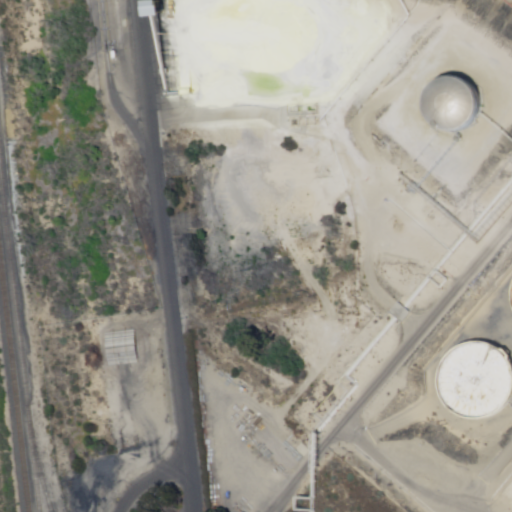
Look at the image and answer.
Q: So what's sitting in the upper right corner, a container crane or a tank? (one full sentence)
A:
Visible in the upper right corner is a tank.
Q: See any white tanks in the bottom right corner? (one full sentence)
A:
Yes, a white tank can be seen in the bottom right corner.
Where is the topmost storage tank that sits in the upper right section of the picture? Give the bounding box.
[420,76,479,133]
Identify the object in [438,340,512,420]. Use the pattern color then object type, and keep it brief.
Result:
white storage tank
